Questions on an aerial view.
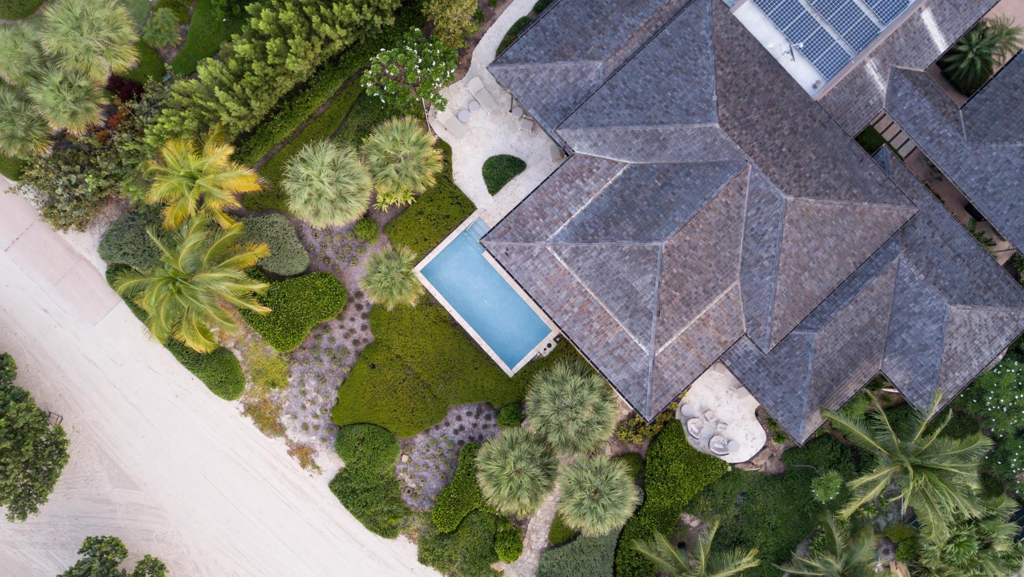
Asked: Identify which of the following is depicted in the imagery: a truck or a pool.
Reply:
pool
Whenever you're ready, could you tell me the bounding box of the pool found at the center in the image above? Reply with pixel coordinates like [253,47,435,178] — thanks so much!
[414,209,561,375]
